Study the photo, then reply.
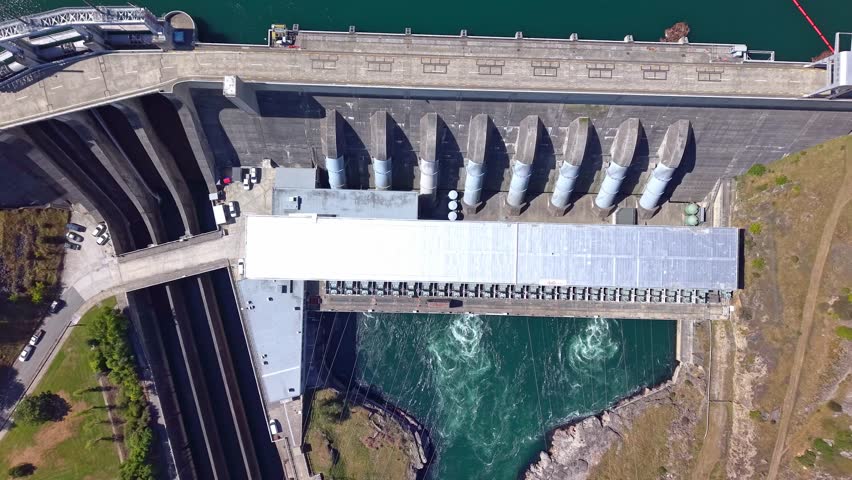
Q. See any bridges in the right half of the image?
No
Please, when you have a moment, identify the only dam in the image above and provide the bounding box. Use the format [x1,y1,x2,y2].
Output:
[0,30,852,200]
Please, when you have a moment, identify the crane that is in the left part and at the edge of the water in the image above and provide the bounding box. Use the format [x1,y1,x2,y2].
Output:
[267,21,298,50]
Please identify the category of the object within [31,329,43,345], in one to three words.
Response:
vehicle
